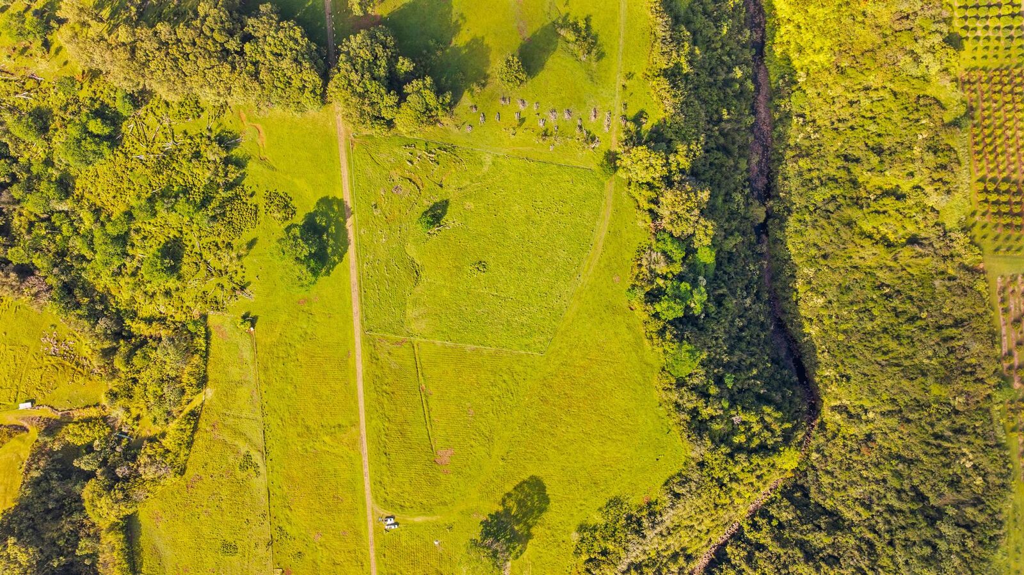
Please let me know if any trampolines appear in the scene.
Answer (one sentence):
No, there appears to be no trampoline in this shot.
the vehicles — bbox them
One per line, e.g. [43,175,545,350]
[385,524,399,530]
[383,517,396,523]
